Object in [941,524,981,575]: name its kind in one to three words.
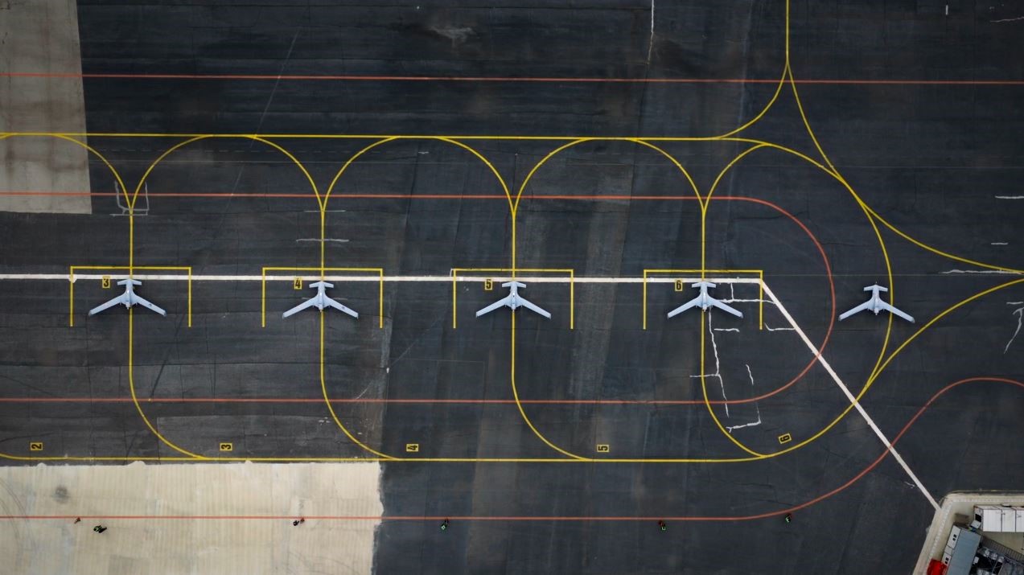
building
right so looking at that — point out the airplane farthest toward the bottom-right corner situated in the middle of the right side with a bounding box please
[839,285,916,322]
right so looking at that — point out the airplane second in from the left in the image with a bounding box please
[282,282,357,318]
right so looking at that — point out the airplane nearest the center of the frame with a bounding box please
[476,282,552,319]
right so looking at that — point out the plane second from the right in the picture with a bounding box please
[668,282,744,318]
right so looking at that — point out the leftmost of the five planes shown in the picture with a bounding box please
[89,278,165,316]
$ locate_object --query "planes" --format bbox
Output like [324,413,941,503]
[282,282,357,318]
[89,278,165,316]
[668,282,744,318]
[839,285,916,322]
[476,282,552,319]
